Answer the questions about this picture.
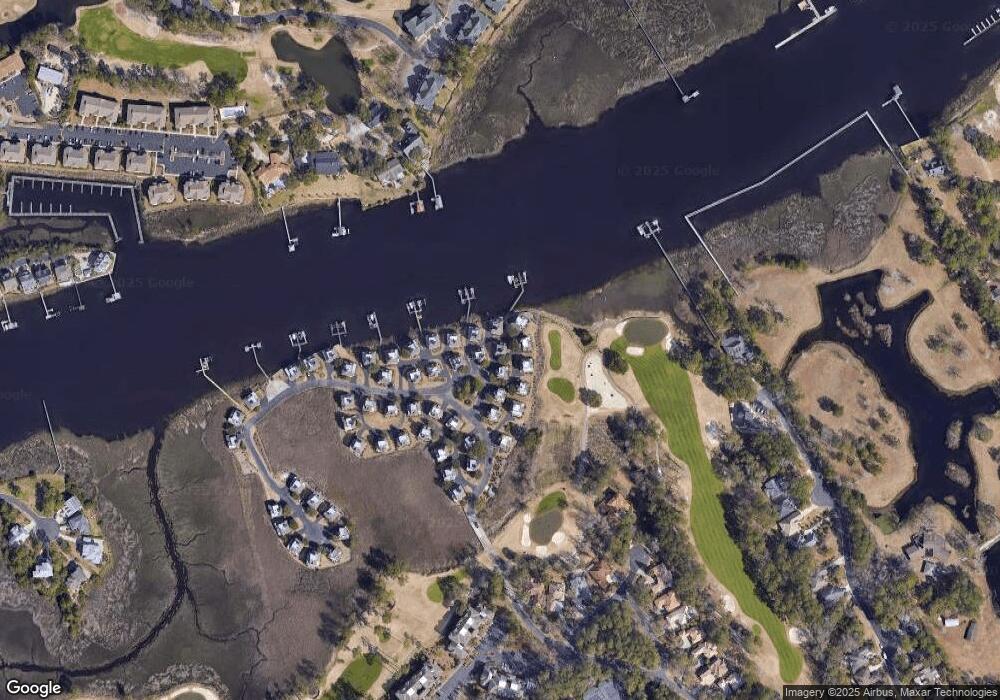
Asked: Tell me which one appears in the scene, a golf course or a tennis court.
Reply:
golf course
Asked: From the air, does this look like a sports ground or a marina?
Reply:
marina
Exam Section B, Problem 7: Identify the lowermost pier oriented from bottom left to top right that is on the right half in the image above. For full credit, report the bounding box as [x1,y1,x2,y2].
[685,111,908,290]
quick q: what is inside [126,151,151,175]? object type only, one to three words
building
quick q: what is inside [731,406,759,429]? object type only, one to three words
house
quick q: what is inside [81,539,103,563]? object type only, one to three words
house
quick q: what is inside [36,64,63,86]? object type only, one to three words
building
